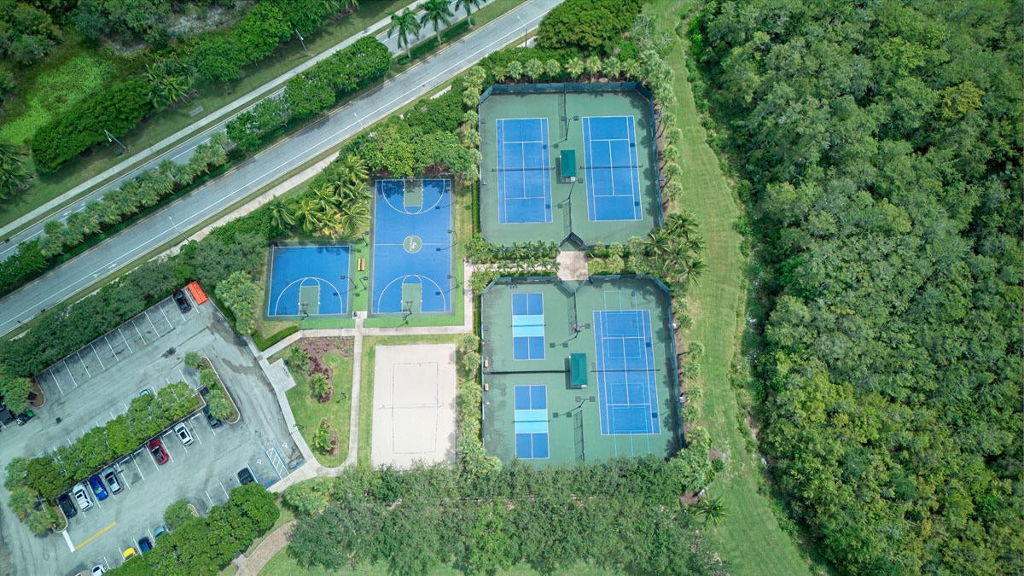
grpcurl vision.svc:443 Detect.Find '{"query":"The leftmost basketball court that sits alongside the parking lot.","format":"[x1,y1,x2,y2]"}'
[263,242,355,321]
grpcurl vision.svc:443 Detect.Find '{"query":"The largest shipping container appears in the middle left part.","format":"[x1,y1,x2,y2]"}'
[187,281,213,308]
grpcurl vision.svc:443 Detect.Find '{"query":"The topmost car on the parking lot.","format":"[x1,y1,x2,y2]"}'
[173,291,192,314]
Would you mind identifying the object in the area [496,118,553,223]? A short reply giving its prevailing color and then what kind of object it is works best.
blue tennis court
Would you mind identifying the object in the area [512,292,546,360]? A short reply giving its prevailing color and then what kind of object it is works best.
blue sports court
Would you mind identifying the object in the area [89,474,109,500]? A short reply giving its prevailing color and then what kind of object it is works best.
blue car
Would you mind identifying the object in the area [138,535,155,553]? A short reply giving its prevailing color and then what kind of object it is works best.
blue car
